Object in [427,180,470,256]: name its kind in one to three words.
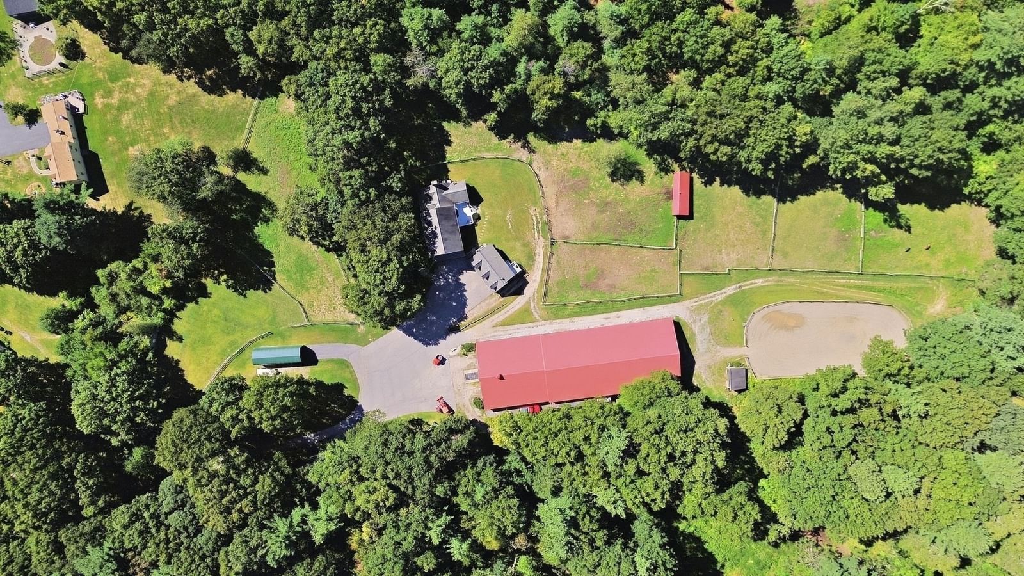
house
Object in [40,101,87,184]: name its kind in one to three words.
house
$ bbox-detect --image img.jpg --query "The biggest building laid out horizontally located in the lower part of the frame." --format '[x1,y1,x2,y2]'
[476,318,682,410]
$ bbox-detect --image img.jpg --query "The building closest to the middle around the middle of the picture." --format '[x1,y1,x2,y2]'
[472,244,516,292]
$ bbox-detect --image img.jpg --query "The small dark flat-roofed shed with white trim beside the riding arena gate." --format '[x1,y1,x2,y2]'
[726,368,746,390]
